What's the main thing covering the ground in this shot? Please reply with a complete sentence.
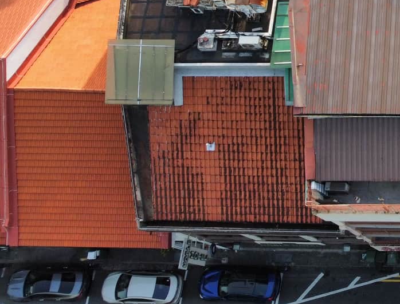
The bulk of the photo consists of buildings.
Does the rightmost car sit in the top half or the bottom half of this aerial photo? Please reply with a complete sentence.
It is in the bottom half that the rightmost car appears.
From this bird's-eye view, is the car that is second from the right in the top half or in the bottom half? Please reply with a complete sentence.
Seen from above, the car that is second from the right lies in the bottom half of the view.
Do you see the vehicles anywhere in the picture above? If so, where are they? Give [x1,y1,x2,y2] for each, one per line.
[199,265,285,304]
[4,266,95,304]
[100,267,187,304]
